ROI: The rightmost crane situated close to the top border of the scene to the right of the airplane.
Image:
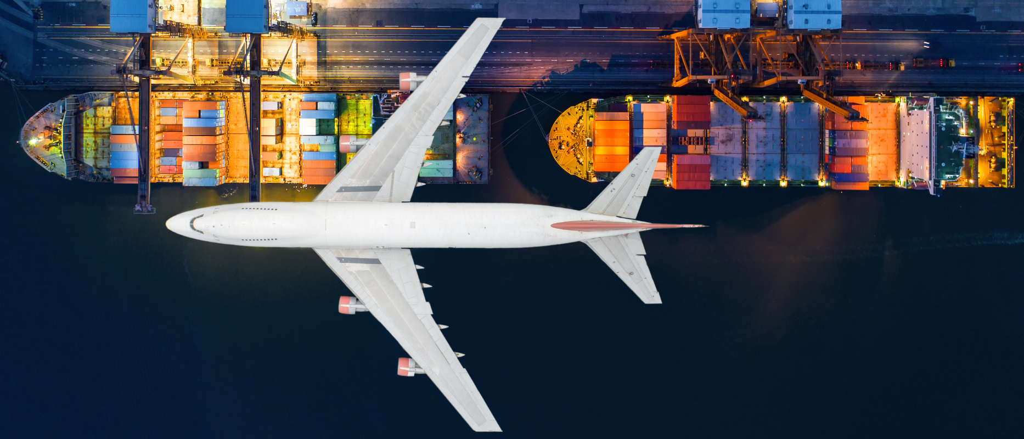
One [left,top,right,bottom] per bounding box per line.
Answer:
[743,0,879,115]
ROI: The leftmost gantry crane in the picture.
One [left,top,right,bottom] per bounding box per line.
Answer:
[108,0,233,212]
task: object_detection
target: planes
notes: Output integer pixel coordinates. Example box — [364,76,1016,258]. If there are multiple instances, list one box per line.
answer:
[166,18,702,431]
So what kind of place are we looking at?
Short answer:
port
